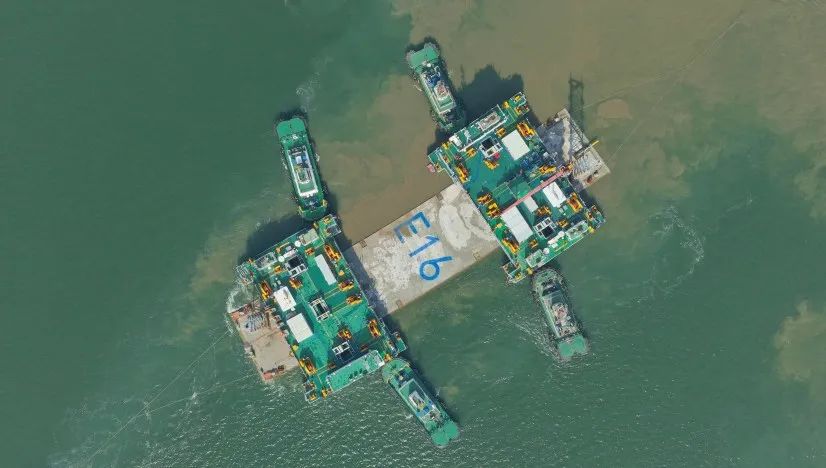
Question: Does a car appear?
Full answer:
No, I can't see a single car in this photo.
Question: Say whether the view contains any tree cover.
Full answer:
No, no tree cover is visible.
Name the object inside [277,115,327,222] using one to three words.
boat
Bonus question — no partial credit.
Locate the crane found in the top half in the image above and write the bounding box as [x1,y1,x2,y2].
[491,158,576,215]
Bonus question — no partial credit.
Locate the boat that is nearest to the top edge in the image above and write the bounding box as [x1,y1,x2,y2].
[408,42,467,135]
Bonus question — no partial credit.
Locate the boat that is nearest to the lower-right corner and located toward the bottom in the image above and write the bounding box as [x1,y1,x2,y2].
[532,265,587,362]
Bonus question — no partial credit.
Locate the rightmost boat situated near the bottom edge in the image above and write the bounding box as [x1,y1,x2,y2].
[386,355,459,447]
